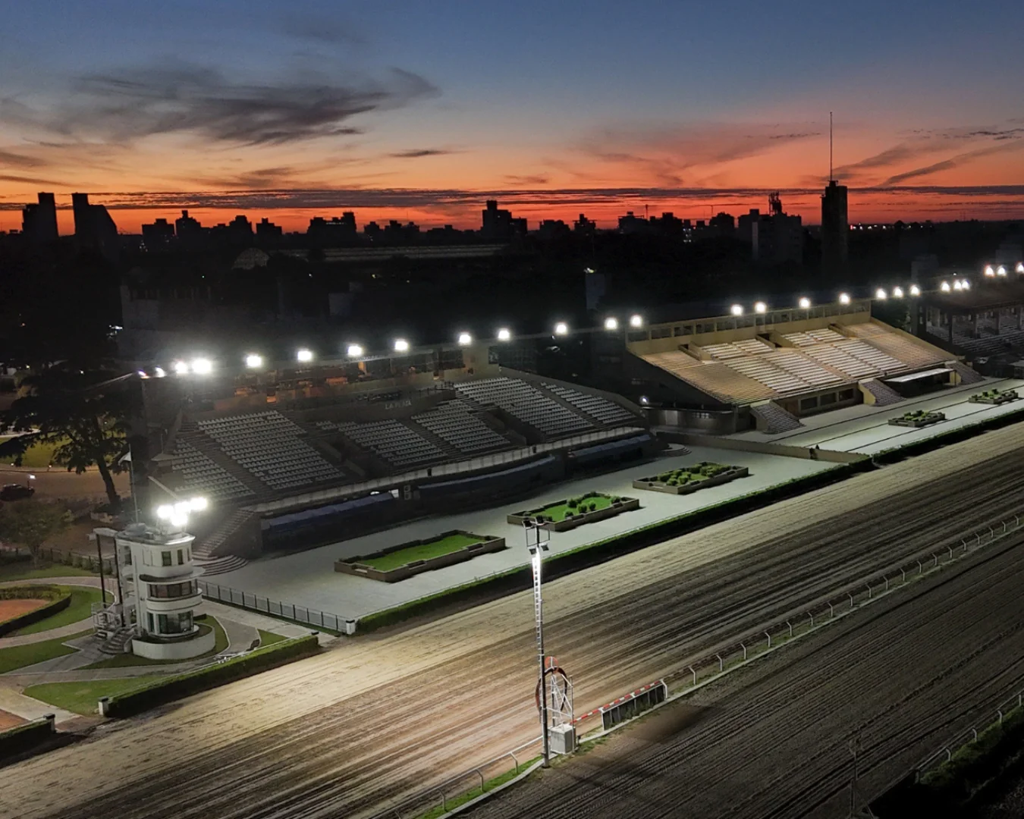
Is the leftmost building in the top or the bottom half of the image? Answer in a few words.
top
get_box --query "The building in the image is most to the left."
[18,187,58,266]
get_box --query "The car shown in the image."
[3,484,39,499]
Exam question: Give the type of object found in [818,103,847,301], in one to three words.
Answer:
building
